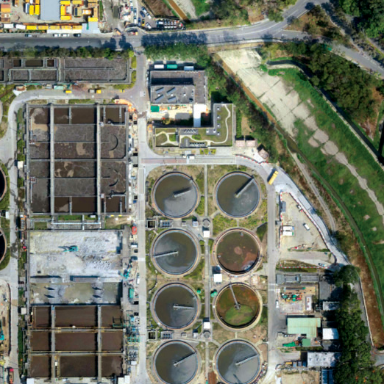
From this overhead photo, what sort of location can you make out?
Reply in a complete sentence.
The picture captures an industrial area.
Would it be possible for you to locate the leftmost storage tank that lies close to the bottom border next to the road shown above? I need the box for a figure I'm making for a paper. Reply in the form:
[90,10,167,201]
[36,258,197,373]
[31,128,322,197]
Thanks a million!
[28,305,126,384]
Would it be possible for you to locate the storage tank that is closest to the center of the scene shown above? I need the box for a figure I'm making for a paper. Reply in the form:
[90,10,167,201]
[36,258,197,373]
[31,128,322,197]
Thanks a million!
[151,170,201,220]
